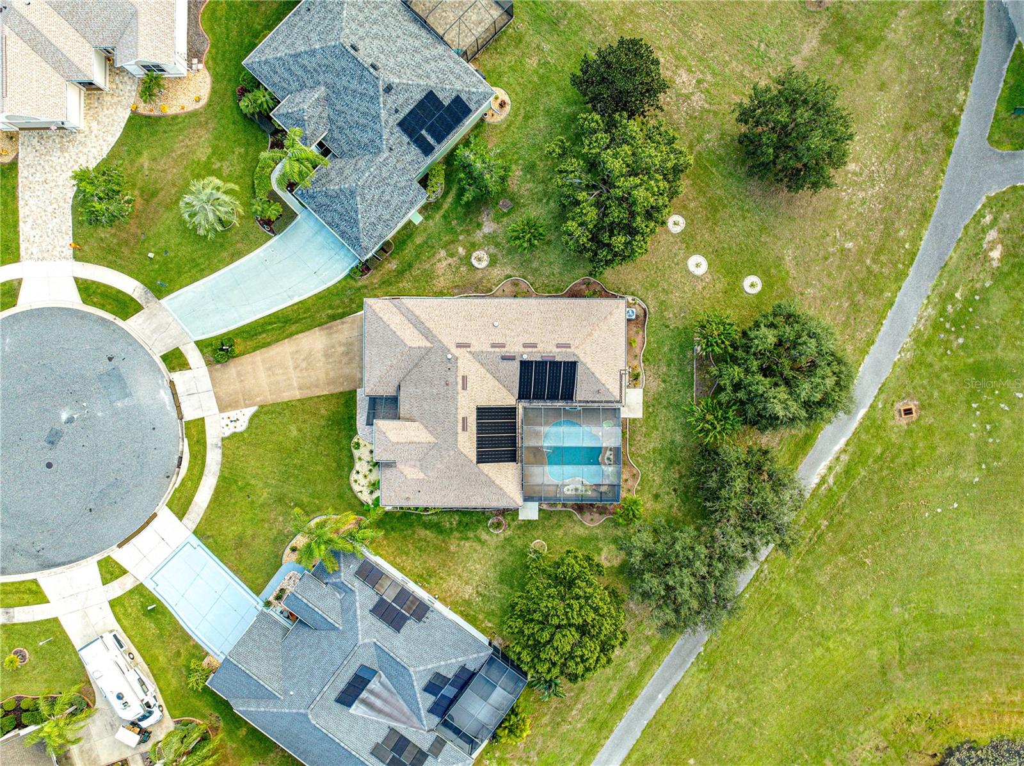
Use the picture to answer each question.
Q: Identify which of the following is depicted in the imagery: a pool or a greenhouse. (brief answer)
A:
pool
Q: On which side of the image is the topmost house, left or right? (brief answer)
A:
left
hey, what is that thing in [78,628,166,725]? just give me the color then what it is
white camper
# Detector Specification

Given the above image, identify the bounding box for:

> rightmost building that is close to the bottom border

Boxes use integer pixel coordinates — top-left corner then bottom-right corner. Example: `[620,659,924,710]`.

[206,537,493,766]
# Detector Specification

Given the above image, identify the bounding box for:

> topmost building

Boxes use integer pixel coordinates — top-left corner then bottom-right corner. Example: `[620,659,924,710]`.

[0,0,185,128]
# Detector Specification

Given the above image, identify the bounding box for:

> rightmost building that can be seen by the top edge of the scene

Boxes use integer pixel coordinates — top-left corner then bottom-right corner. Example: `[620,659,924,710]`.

[242,0,497,260]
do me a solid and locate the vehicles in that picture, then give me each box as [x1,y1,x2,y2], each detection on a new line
[117,718,152,747]
[78,628,166,725]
